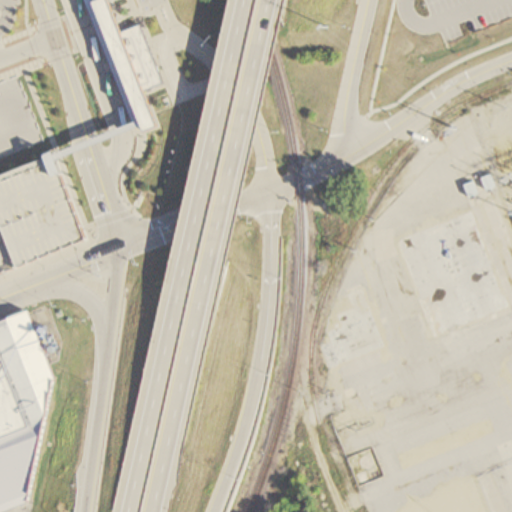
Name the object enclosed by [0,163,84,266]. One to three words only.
building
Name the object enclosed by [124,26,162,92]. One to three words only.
building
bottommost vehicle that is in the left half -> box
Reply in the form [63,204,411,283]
[88,241,122,258]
